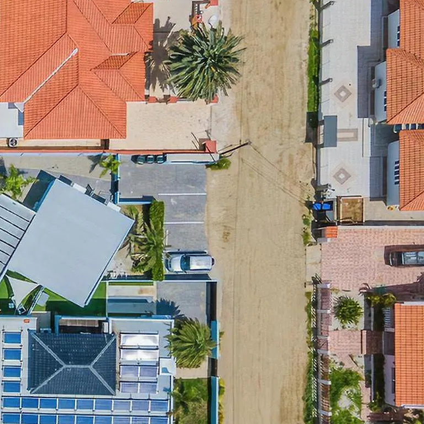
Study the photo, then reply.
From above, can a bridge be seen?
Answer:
No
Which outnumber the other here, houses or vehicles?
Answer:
houses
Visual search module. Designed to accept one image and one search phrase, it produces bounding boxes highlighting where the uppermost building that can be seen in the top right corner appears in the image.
[373,0,424,126]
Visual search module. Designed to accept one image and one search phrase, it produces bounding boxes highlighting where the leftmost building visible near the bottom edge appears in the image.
[0,316,176,424]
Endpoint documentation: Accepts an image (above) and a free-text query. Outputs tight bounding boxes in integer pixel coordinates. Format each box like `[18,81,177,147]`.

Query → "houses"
[386,129,424,211]
[373,0,424,126]
[0,0,154,140]
[6,178,135,311]
[0,316,176,424]
[381,301,424,409]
